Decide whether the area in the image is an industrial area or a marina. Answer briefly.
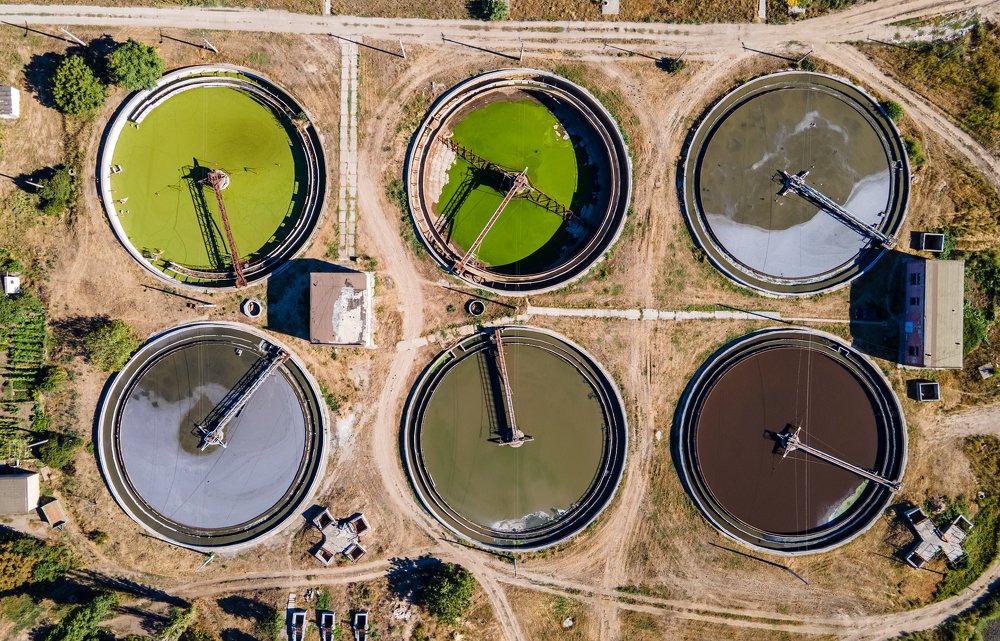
industrial area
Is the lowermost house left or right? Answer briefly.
left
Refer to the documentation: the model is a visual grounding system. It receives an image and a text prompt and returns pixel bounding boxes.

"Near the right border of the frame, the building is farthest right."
[905,260,964,368]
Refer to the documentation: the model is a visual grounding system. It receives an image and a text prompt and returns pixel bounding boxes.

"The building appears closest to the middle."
[310,272,372,346]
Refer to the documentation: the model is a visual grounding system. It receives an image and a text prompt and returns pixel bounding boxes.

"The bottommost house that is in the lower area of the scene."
[0,473,40,514]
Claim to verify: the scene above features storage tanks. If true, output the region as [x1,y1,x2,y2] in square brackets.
[404,327,628,552]
[101,65,327,291]
[100,323,327,550]
[683,70,909,296]
[680,329,906,555]
[407,67,632,292]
